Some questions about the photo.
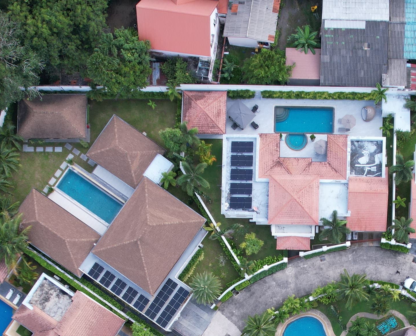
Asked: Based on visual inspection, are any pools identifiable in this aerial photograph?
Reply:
Yes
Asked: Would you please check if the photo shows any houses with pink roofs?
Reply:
Yes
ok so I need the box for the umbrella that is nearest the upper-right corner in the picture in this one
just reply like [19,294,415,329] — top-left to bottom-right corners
[342,114,357,129]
